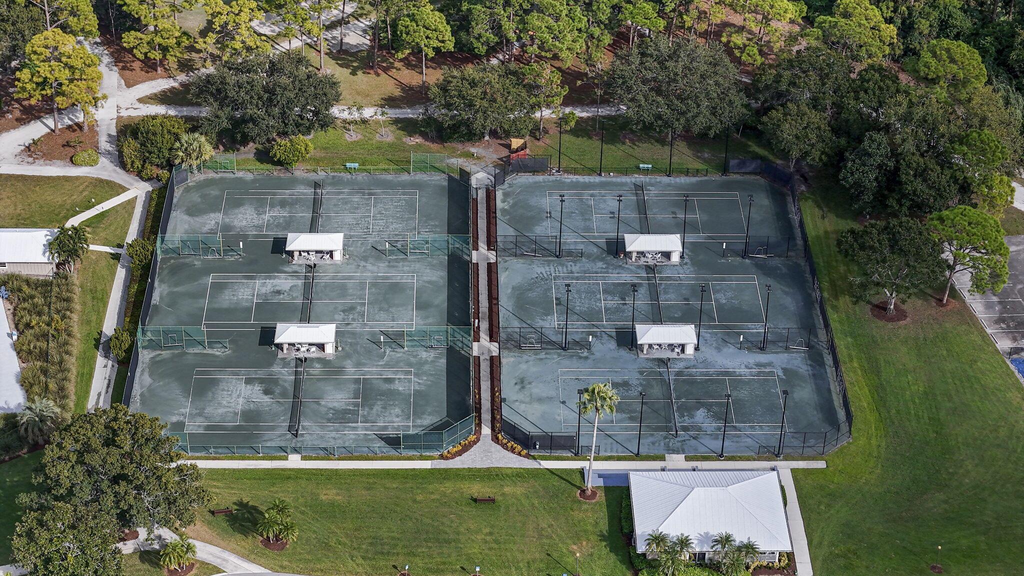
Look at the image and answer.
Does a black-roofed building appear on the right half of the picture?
No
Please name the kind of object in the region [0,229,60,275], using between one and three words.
building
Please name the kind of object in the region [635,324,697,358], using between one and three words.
building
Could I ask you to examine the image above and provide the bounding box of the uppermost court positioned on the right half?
[495,176,806,259]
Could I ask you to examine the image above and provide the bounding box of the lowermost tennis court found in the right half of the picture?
[499,350,850,455]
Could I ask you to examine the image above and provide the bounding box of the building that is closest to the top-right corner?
[623,233,682,265]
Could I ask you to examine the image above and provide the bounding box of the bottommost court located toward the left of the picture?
[123,350,473,454]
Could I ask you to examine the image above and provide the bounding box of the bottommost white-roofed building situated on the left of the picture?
[274,323,337,357]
